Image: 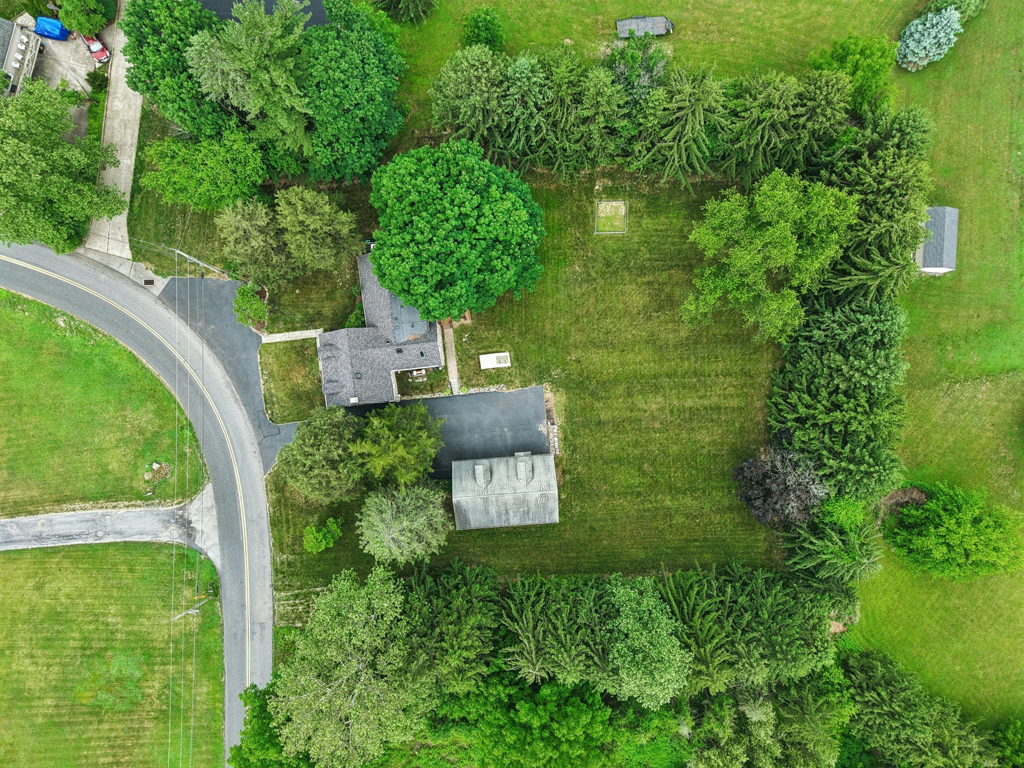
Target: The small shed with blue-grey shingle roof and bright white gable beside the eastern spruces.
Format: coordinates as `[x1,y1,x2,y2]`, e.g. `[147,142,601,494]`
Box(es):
[906,206,958,273]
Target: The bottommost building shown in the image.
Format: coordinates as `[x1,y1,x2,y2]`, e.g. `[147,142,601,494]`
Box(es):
[451,451,559,531]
